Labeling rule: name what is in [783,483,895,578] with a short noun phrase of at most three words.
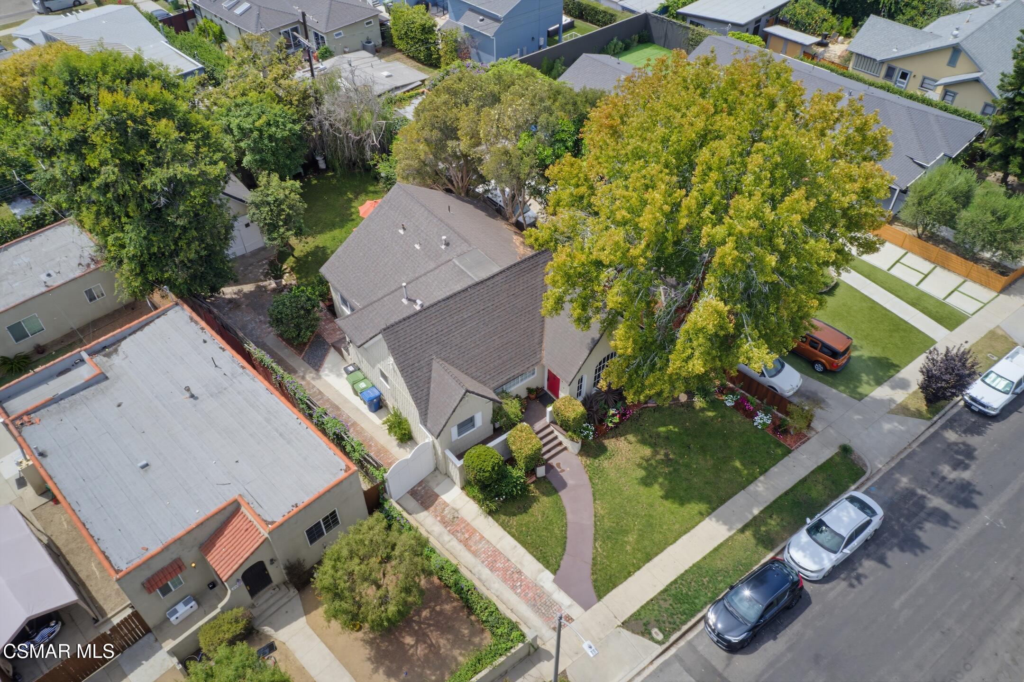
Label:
car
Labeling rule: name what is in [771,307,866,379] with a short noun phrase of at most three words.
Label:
car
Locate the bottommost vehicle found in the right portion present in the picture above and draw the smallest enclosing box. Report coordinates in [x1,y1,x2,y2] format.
[700,548,812,653]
